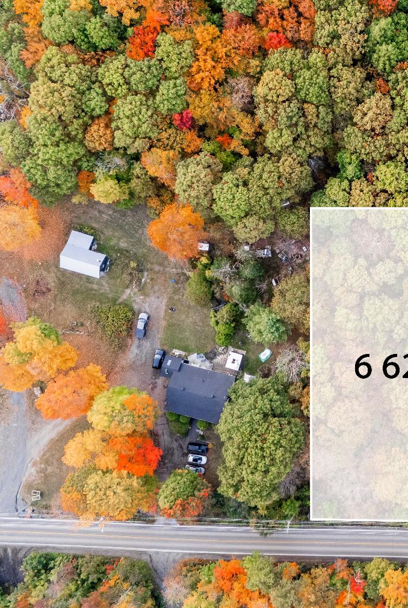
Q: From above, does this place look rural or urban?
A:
rural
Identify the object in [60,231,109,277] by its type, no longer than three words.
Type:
shed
